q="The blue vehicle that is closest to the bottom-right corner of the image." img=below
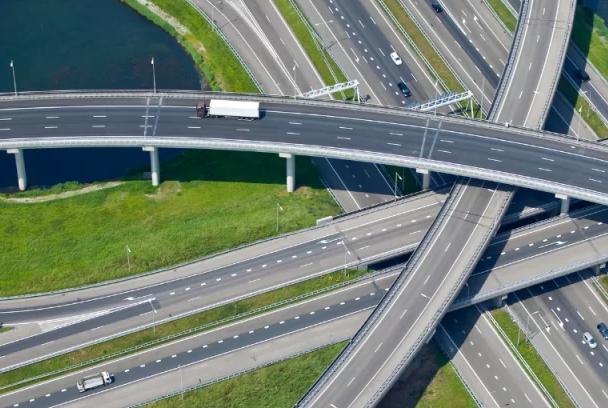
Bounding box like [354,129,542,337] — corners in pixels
[596,323,608,339]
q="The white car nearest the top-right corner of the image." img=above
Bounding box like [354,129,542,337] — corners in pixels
[390,52,402,65]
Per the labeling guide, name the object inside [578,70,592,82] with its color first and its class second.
black vehicle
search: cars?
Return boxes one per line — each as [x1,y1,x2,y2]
[390,52,402,65]
[578,70,592,82]
[596,323,608,339]
[397,81,410,94]
[582,332,597,347]
[431,3,444,14]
